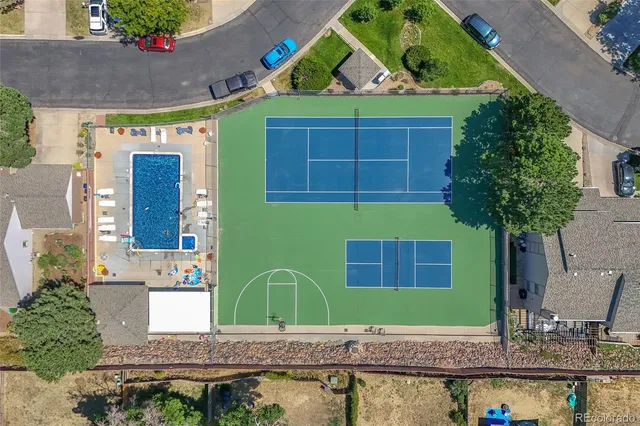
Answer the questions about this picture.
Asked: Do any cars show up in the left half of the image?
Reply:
Yes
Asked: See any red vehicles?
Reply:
Yes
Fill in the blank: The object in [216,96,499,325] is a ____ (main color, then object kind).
green sports court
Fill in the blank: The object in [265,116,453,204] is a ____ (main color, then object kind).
blue tennis court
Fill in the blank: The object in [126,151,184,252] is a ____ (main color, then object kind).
blue swimming pool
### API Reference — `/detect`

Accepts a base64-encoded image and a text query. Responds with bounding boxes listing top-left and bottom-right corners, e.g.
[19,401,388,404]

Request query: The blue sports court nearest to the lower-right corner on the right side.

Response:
[346,240,452,289]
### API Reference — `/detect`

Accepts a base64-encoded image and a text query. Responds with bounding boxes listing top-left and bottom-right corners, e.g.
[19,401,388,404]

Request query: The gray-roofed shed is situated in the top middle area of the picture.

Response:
[338,48,381,91]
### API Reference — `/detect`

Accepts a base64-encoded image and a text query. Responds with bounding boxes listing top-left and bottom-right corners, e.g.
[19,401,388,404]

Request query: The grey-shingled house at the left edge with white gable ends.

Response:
[0,166,82,307]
